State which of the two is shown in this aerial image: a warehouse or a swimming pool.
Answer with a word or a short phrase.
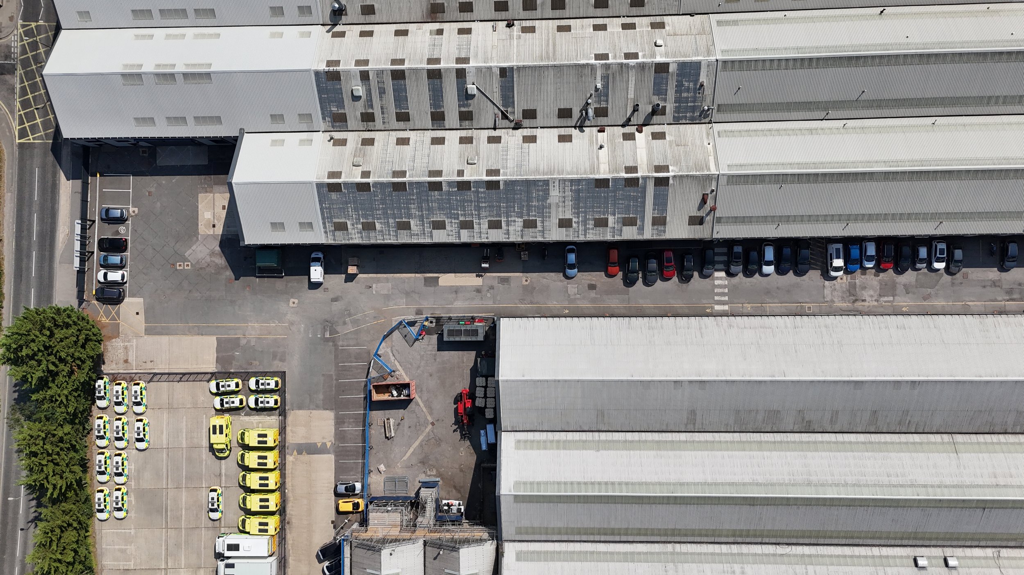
warehouse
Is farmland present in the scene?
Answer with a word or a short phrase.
No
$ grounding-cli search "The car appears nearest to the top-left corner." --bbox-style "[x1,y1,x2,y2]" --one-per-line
[101,207,128,221]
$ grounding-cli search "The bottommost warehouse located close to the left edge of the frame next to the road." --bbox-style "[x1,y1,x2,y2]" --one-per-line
[42,22,323,145]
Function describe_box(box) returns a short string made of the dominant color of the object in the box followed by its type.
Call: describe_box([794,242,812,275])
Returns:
black car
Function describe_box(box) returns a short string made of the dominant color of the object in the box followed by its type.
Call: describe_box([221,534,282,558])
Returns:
white truck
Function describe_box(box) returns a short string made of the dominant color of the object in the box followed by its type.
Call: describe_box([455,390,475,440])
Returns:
red work vehicle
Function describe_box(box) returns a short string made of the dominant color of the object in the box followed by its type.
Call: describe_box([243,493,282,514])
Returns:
yellow vehicle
